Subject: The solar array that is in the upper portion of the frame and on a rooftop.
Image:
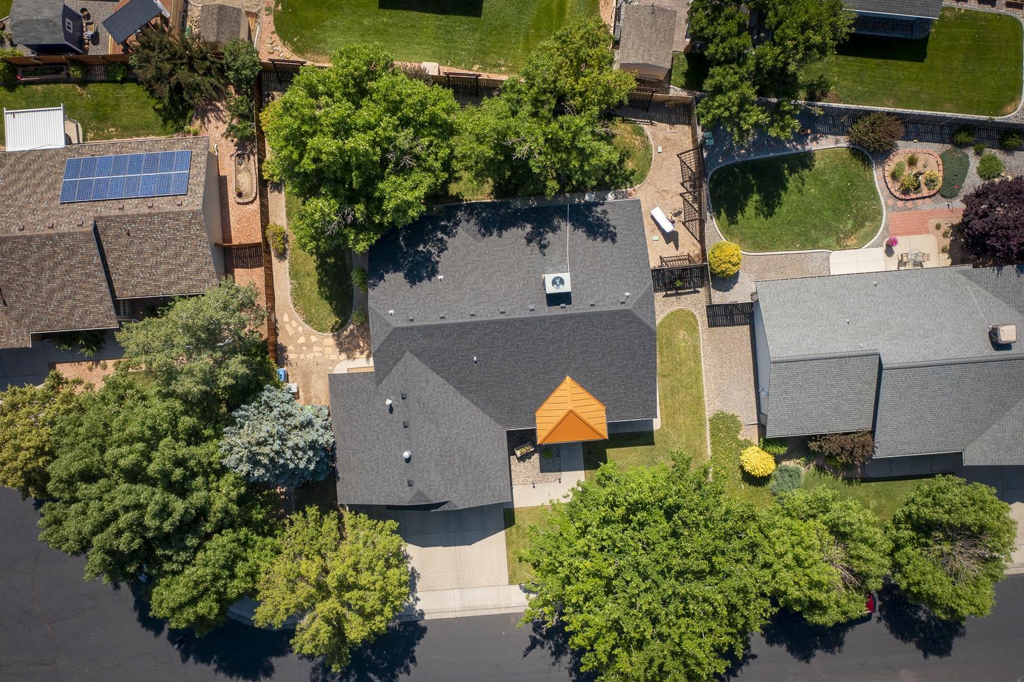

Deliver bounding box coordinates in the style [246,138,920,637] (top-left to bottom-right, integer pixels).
[60,149,191,201]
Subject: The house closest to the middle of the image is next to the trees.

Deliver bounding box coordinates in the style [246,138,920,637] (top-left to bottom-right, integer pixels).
[328,198,657,510]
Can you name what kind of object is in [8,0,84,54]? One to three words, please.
shed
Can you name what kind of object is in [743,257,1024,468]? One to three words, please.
house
